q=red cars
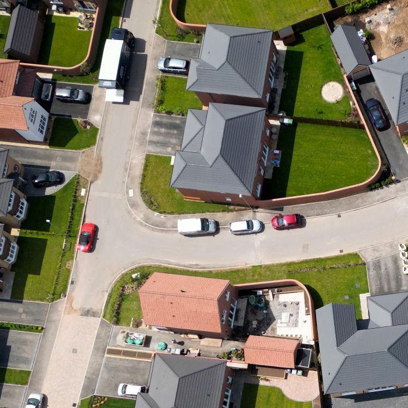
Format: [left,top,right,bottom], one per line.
[78,223,99,254]
[272,214,303,230]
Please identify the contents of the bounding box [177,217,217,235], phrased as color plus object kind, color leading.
white vehicle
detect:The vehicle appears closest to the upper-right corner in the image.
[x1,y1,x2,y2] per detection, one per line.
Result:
[361,97,392,132]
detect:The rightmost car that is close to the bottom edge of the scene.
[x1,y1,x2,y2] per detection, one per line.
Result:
[118,382,148,397]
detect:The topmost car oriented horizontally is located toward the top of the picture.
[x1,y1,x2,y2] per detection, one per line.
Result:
[157,57,188,75]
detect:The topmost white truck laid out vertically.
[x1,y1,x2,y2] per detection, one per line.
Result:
[99,35,132,109]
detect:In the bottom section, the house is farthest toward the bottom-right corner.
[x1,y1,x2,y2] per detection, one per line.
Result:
[315,292,408,398]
